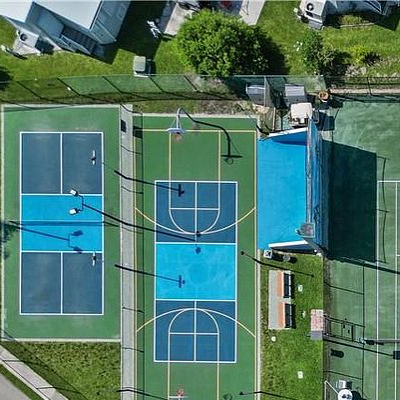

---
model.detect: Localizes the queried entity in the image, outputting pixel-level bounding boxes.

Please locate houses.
[37,0,151,57]
[322,0,400,15]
